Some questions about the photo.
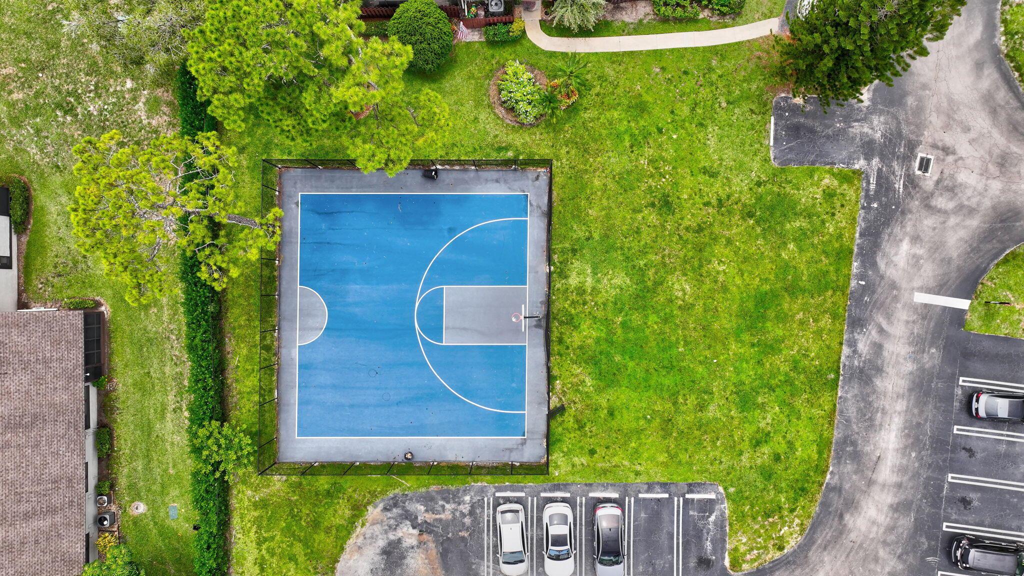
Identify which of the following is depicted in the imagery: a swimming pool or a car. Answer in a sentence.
The one in the frame is a car.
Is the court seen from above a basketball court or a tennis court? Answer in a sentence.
Specifically, the court is a basketball court.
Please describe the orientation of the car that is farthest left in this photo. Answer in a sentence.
The car that is farthest left is oriented vertically.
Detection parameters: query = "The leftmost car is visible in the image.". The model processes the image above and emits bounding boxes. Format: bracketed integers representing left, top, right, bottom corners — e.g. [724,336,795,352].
[496,503,531,575]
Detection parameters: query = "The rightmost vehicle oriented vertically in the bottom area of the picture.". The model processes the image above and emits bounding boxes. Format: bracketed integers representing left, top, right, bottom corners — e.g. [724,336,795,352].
[592,502,629,576]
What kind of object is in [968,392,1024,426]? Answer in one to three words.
car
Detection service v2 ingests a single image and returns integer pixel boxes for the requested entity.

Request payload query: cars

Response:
[592,502,629,576]
[496,503,531,575]
[968,392,1024,426]
[948,537,1024,576]
[541,502,578,576]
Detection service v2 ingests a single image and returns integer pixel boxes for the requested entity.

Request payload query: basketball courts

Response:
[276,168,549,463]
